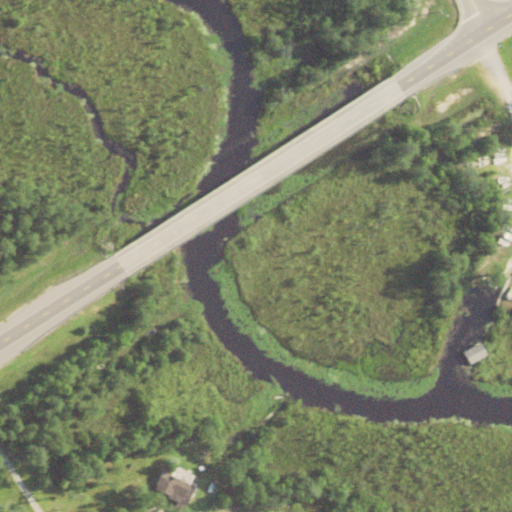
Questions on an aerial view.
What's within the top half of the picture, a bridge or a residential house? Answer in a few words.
bridge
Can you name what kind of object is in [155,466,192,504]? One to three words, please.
house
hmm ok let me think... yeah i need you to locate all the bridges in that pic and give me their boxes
[114,72,408,276]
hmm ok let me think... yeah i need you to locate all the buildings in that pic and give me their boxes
[465,343,488,364]
[155,466,192,504]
